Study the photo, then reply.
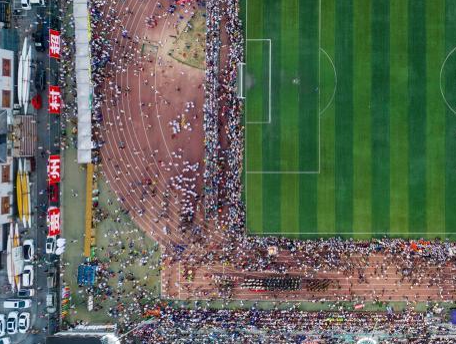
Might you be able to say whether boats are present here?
Yes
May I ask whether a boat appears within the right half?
No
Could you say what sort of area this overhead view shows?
sports ground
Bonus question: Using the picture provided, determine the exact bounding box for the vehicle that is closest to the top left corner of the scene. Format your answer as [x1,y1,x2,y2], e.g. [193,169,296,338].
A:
[20,0,33,13]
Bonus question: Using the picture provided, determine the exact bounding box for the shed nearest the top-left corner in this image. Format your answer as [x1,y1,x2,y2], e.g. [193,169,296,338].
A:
[0,28,25,49]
